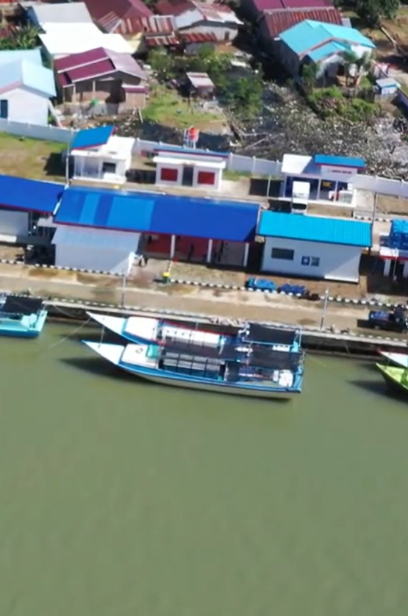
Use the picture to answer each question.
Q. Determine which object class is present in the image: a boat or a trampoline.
boat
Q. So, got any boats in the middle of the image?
Yes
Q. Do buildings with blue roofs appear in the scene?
Yes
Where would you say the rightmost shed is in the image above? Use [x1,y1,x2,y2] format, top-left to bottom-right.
[369,77,399,100]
